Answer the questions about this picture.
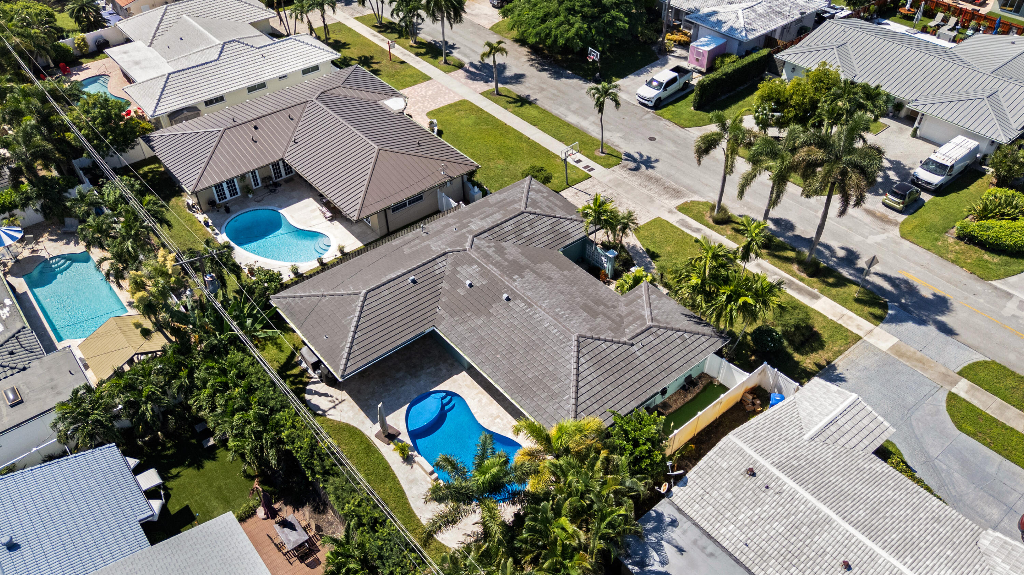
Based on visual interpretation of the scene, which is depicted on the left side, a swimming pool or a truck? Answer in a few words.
swimming pool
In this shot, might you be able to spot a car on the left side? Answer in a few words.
No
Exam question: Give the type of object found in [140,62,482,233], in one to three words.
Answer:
house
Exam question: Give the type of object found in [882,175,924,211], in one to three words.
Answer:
car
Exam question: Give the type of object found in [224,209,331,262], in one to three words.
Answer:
swimming pool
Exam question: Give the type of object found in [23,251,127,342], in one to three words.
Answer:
swimming pool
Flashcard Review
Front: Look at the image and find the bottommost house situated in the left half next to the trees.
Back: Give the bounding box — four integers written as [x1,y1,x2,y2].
[0,443,274,575]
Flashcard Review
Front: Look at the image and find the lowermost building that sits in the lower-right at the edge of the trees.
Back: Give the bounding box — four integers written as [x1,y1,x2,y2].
[611,375,1024,575]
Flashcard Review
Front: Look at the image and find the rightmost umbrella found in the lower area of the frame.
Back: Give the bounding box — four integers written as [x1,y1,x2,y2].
[371,402,399,450]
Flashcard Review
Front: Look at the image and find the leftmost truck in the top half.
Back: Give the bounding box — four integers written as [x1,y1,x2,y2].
[634,64,696,106]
